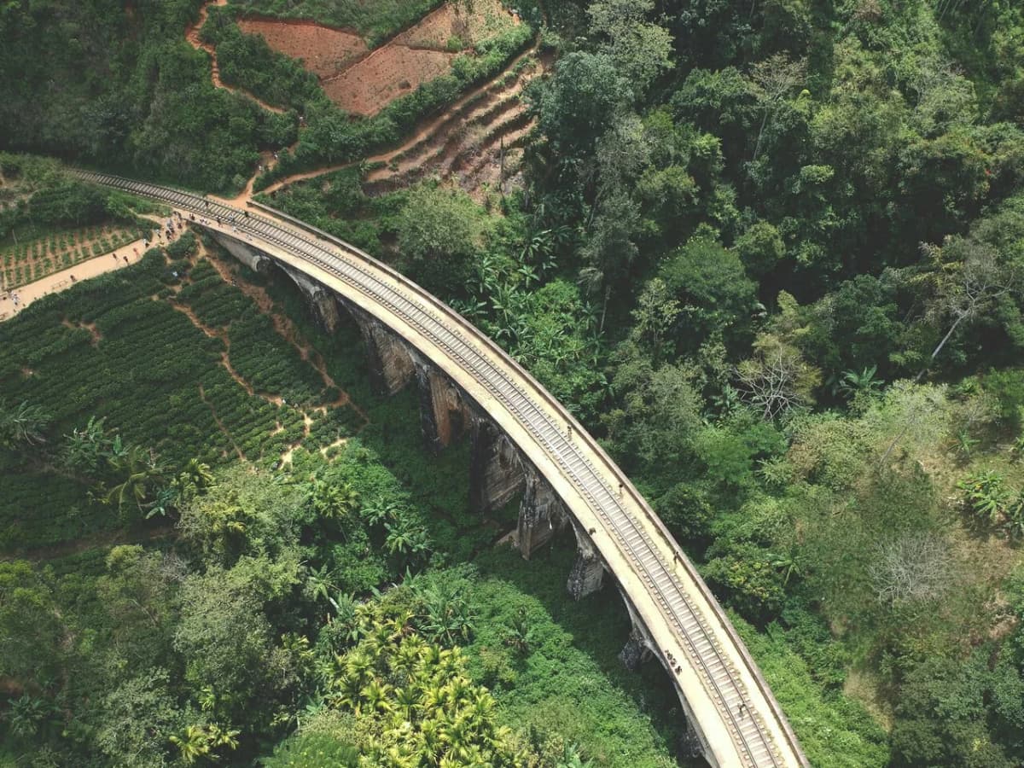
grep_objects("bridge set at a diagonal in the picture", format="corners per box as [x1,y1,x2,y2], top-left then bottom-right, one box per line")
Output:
[156,187,813,768]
